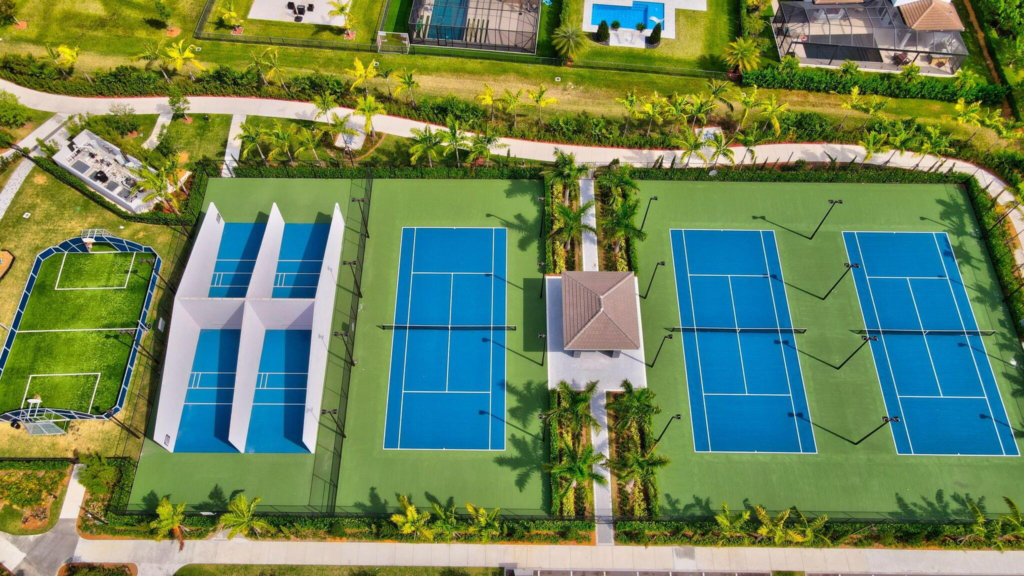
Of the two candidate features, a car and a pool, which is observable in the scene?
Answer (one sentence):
The image shows a pool.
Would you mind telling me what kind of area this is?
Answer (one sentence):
What you see here is a sports ground.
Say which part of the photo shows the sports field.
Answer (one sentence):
The sports field is located in the left region of the scene.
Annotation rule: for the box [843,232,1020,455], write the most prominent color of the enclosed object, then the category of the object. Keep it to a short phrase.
blue tennis court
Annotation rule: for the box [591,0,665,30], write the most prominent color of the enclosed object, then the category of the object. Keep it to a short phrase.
blue swimming pool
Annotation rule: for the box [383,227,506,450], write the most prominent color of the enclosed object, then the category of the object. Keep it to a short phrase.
blue tennis court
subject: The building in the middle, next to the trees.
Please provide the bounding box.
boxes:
[561,269,642,357]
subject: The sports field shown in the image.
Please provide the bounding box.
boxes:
[0,237,160,431]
